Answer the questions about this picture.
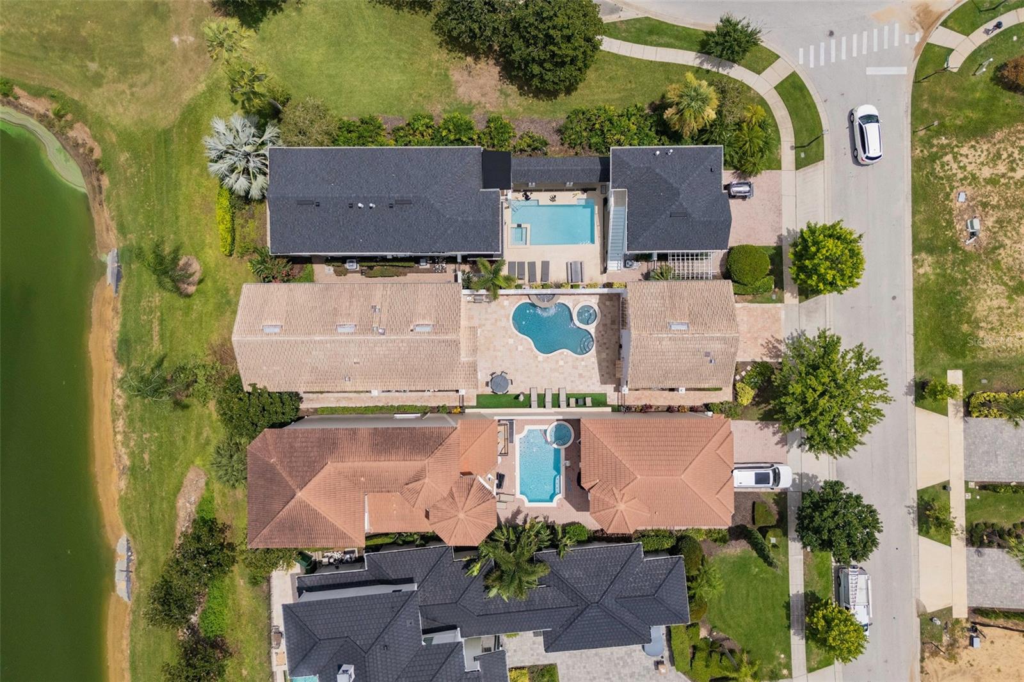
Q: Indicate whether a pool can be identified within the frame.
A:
Yes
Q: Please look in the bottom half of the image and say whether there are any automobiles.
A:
Yes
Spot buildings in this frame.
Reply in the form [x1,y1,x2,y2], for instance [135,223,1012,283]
[281,535,691,682]
[245,407,499,550]
[231,283,478,396]
[577,405,735,535]
[606,144,731,253]
[618,280,740,394]
[266,146,512,266]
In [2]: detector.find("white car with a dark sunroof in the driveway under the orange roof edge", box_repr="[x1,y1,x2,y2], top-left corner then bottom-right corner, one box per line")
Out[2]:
[733,463,791,492]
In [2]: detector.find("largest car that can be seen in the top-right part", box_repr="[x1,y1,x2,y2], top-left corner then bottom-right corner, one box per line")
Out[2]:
[850,107,883,165]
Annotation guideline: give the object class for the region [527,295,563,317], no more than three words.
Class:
fountain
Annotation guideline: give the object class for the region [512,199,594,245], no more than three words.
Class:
swimming pool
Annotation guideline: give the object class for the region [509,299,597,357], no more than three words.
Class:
swimming pool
